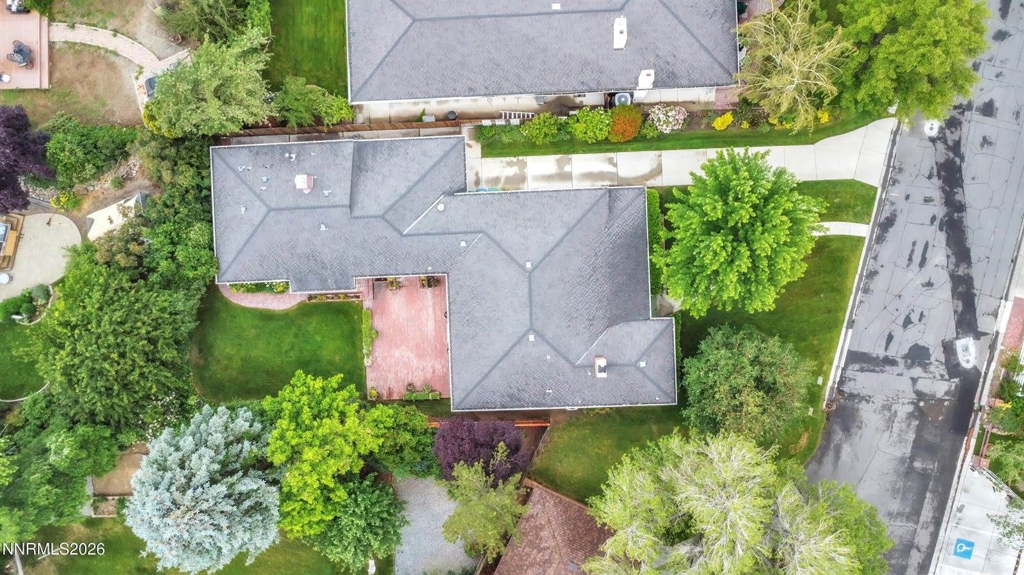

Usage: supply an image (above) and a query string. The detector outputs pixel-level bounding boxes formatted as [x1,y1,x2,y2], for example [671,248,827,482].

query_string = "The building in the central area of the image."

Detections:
[208,133,679,412]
